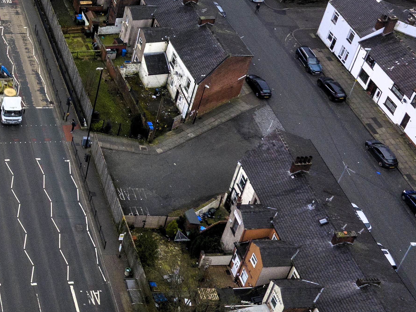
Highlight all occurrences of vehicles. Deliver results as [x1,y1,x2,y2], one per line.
[363,143,405,176]
[316,77,350,106]
[0,56,23,124]
[399,190,416,215]
[213,0,231,20]
[374,239,406,274]
[350,203,379,235]
[248,74,276,103]
[294,47,324,74]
